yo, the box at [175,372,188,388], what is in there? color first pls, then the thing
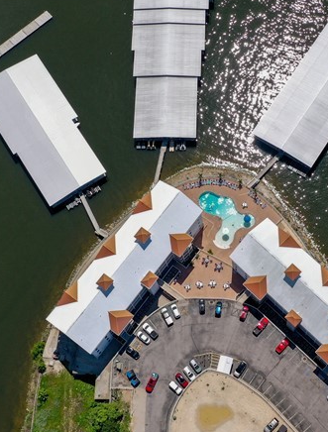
red vehicle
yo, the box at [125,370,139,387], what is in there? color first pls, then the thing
blue vehicle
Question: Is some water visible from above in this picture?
Yes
